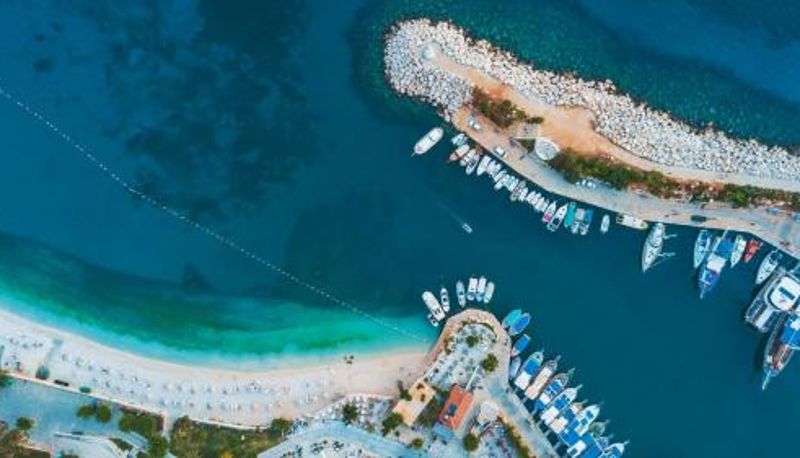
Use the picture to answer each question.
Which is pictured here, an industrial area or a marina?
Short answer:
marina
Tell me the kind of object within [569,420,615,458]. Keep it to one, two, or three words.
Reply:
boat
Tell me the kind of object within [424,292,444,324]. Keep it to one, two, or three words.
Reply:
boat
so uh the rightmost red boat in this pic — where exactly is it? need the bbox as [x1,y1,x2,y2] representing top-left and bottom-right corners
[746,239,760,262]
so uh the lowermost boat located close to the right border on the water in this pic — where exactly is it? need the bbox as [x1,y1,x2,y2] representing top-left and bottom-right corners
[769,307,800,388]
